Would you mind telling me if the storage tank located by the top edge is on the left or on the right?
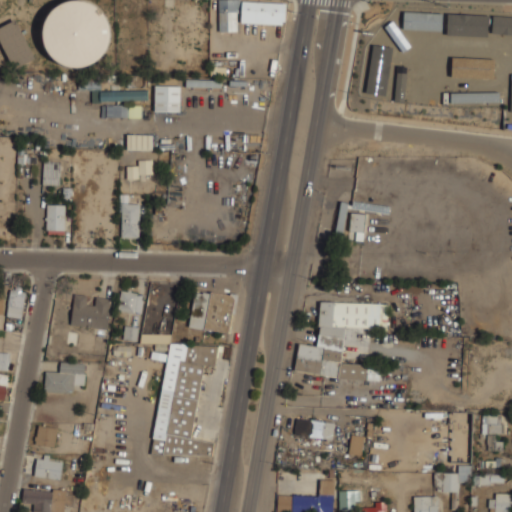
left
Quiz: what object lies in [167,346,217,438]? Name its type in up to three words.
building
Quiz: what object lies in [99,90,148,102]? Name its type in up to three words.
shed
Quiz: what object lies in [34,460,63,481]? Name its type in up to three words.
house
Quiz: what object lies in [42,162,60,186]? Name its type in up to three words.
house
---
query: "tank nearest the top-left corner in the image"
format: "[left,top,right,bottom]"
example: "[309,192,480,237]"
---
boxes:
[42,0,111,68]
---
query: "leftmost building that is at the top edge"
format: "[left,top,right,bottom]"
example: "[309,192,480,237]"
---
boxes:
[0,21,34,68]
